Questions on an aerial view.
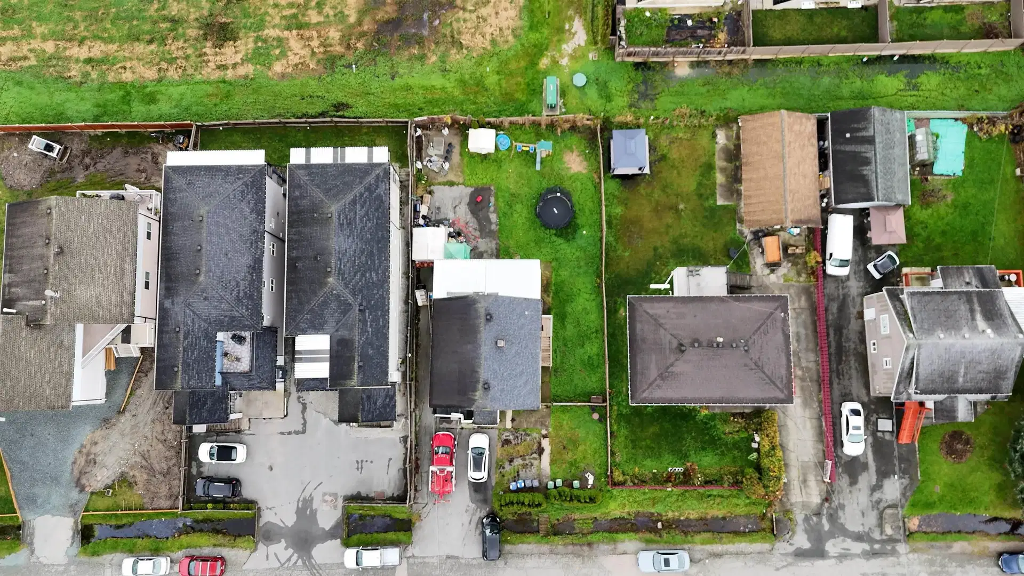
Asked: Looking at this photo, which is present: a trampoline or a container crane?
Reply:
trampoline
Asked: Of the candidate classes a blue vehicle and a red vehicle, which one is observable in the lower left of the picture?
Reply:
red vehicle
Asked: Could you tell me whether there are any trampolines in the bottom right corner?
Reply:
No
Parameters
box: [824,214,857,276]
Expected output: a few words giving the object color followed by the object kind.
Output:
white van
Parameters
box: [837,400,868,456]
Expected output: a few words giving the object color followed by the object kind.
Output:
white car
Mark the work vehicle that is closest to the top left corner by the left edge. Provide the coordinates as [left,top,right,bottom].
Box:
[23,132,74,167]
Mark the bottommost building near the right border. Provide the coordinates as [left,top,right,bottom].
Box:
[863,266,1024,443]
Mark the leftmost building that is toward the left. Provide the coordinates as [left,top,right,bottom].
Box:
[0,193,160,410]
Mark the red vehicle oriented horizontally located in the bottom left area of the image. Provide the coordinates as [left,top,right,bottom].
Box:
[179,553,229,576]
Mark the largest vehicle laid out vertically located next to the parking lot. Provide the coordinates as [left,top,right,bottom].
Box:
[429,430,456,506]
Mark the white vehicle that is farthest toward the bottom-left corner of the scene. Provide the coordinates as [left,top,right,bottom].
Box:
[122,553,173,576]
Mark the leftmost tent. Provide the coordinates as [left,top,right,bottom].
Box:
[469,128,496,156]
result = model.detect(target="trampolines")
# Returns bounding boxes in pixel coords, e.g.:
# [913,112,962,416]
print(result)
[536,189,575,230]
